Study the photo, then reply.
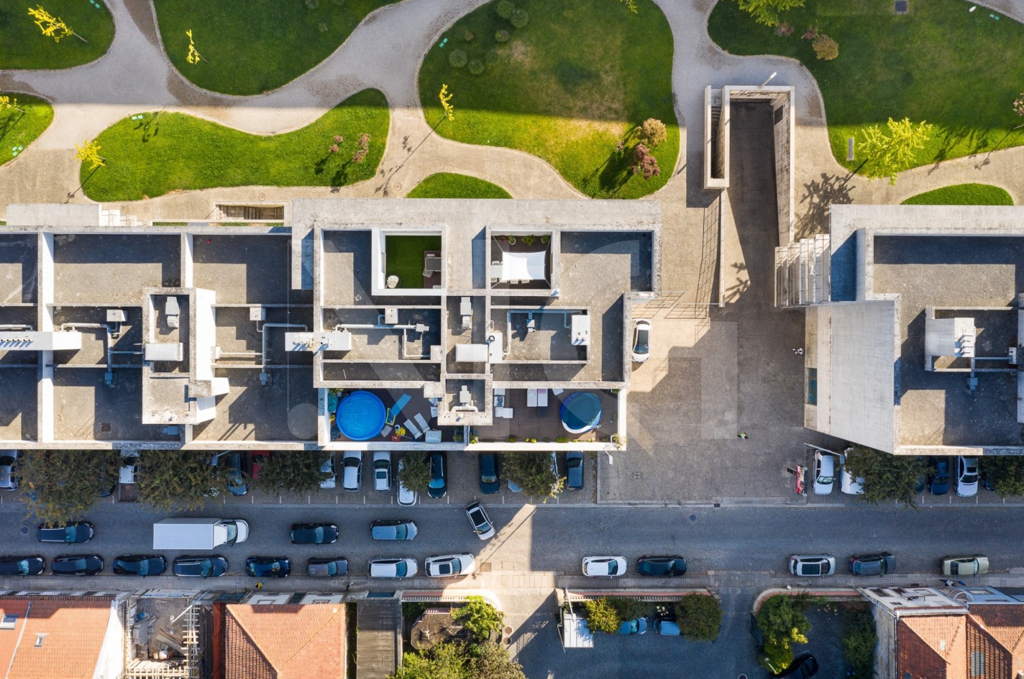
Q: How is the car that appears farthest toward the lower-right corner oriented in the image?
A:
from side to side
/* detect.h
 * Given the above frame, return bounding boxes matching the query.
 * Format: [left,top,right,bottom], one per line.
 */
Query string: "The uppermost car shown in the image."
[632,318,654,363]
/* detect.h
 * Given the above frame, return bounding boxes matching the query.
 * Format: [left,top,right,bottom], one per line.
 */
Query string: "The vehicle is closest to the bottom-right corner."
[940,554,990,579]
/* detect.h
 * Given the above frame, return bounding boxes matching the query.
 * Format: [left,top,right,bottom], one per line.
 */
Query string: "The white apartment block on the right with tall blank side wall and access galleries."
[774,205,1024,455]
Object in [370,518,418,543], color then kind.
blue car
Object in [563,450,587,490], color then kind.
blue car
